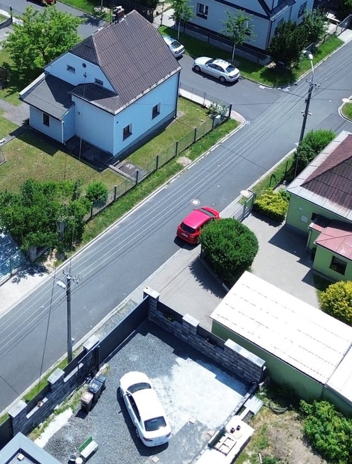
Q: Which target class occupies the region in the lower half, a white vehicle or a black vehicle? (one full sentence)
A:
The one visible in the lower half is a white vehicle.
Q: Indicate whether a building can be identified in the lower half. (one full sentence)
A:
Yes, a building is visible in the lower half.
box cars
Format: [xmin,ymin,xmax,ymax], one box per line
[162,31,191,56]
[34,0,59,7]
[117,375,176,450]
[174,205,223,247]
[191,59,243,86]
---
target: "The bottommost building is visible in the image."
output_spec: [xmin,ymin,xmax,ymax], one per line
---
[0,434,59,464]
